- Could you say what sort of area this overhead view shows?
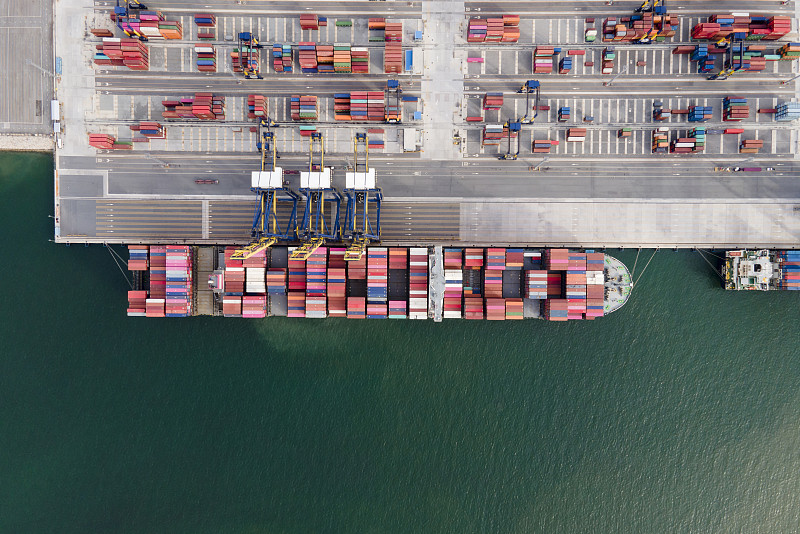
port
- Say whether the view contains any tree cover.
No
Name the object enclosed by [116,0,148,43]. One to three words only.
container crane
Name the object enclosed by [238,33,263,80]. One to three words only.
container crane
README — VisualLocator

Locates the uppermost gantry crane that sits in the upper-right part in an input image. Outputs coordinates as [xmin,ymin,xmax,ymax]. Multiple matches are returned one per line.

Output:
[633,0,664,44]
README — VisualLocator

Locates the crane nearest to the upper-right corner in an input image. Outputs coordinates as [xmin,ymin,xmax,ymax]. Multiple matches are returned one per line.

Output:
[709,32,745,81]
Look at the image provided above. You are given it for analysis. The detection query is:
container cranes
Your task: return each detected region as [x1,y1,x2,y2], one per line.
[709,32,745,81]
[238,33,263,80]
[498,118,522,160]
[288,130,345,259]
[255,116,279,158]
[517,80,541,125]
[384,80,402,124]
[633,0,664,44]
[116,0,148,43]
[230,129,302,258]
[341,130,387,259]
